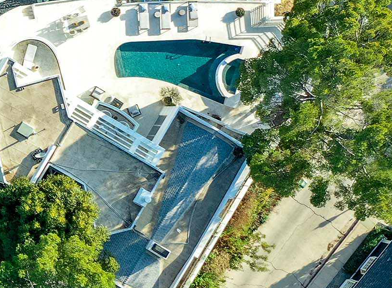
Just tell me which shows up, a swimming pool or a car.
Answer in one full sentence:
Looking from above, you can make out a swimming pool.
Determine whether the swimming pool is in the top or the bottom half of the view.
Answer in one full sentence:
The swimming pool is in the top half of the image.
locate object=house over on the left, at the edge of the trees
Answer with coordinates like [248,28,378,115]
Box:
[0,35,252,288]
